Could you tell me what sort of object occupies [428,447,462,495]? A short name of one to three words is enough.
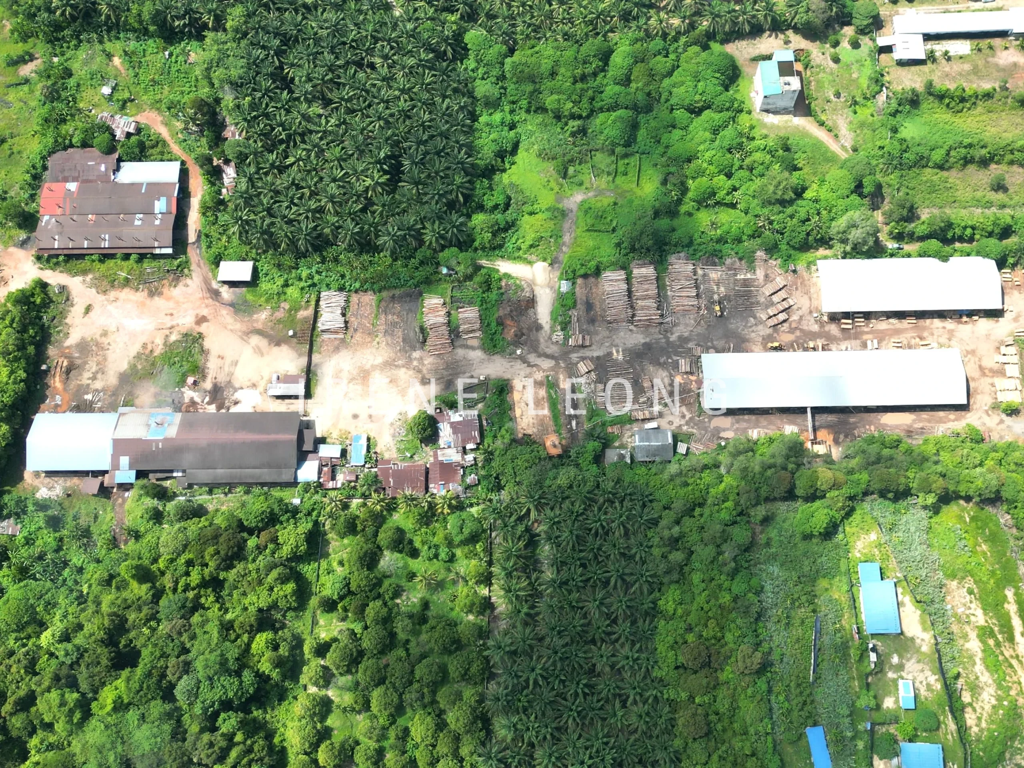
house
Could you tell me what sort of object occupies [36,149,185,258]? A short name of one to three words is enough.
building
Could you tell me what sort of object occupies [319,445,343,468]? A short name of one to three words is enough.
shed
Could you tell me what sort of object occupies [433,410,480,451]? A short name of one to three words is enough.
house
